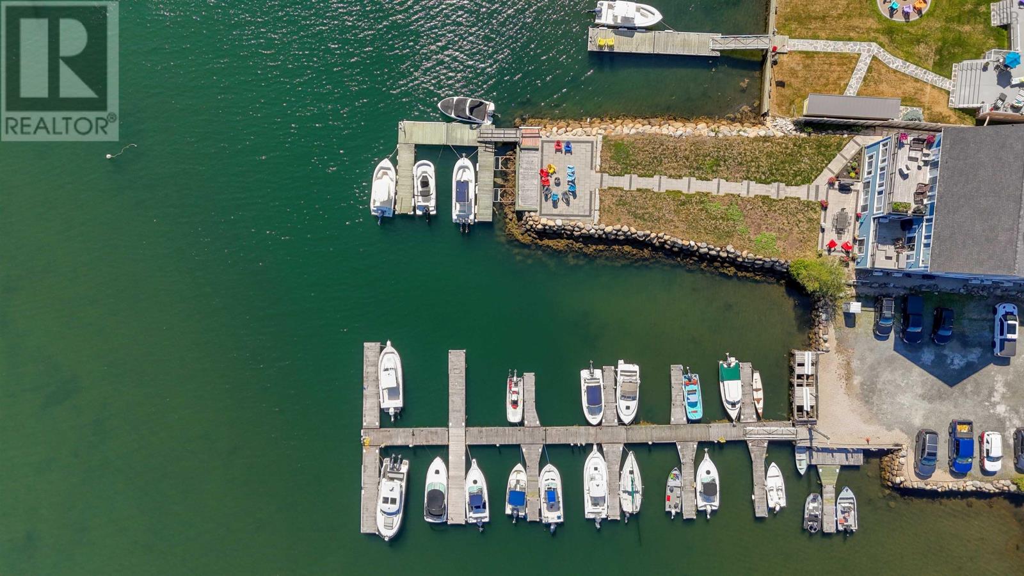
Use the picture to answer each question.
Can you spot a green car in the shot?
No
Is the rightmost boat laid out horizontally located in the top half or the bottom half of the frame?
top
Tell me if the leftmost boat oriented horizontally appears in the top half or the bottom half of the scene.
top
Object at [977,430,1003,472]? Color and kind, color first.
white car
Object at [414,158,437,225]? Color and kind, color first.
white boat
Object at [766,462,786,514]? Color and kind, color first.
white boat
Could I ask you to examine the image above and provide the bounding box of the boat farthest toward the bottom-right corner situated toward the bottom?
[837,487,857,537]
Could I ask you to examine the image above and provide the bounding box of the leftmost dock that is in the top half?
[395,144,416,215]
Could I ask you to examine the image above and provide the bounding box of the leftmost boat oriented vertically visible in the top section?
[370,148,399,228]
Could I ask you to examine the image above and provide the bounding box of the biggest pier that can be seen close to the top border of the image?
[588,26,722,57]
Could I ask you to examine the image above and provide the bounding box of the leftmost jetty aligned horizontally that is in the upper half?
[398,121,495,146]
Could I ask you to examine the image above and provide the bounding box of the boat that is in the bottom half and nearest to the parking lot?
[795,447,808,475]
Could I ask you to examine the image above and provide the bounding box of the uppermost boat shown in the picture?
[581,0,675,31]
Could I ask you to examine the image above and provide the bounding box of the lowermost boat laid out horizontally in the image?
[438,98,505,125]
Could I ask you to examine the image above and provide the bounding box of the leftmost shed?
[802,93,900,121]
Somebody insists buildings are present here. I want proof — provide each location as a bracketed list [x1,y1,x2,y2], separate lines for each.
[854,123,1024,280]
[802,93,900,121]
